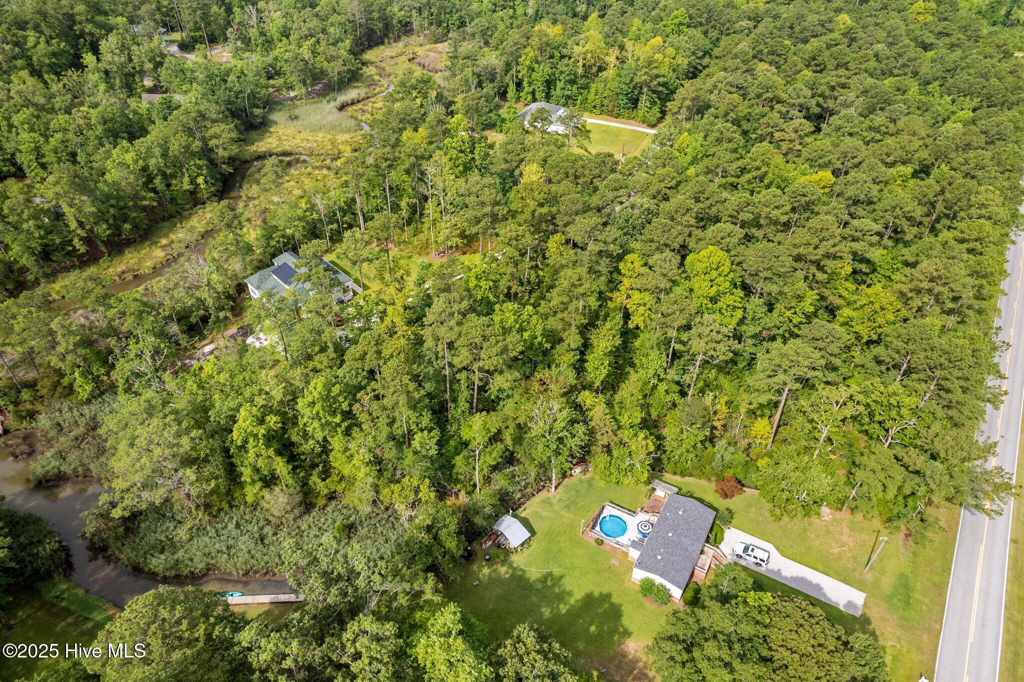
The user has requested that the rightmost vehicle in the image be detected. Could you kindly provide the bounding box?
[732,543,770,567]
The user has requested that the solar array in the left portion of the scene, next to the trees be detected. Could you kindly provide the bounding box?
[264,259,304,281]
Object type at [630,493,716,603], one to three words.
house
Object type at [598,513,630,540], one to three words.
swimming pool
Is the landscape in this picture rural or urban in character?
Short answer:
rural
